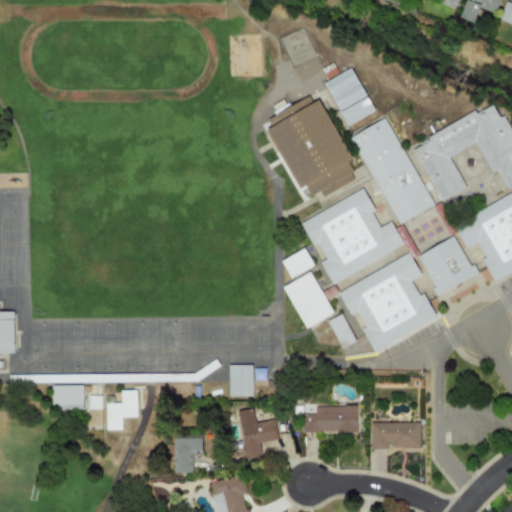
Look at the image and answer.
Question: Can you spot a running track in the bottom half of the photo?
No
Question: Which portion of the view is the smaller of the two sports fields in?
top left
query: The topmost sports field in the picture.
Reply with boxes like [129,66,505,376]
[36,24,205,87]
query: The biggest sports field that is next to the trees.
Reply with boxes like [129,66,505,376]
[30,108,272,316]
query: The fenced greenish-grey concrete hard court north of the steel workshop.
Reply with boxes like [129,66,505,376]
[282,29,324,81]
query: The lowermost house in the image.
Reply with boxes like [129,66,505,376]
[212,479,248,512]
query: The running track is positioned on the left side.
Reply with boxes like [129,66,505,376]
[2,1,228,106]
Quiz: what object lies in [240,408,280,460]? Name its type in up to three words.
house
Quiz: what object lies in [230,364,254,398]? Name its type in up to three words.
shed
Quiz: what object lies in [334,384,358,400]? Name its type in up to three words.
swimming pool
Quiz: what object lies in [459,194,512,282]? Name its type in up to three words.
building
